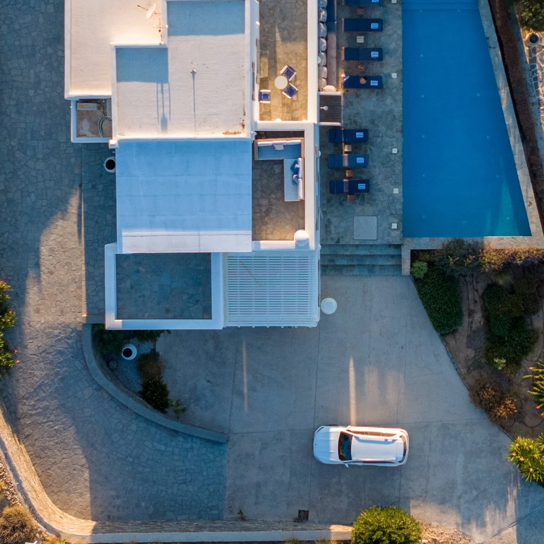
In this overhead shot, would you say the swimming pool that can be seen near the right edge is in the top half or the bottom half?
top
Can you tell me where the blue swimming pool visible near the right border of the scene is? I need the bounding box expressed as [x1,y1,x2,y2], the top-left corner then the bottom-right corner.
[402,0,544,275]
